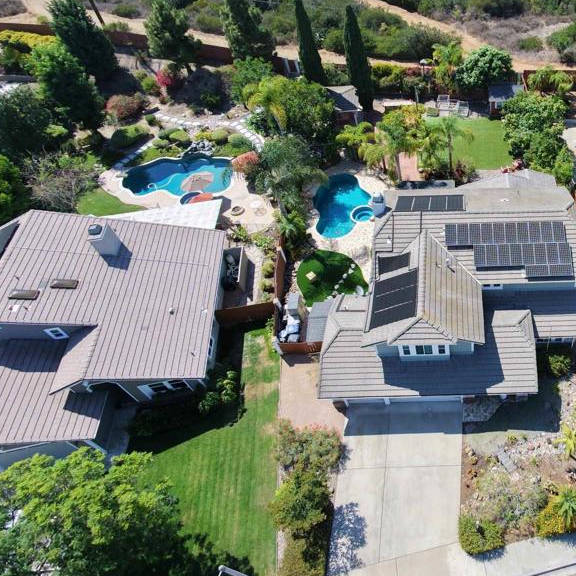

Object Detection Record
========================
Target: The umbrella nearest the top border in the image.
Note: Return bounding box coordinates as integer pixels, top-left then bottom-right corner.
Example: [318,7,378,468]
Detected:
[179,169,220,201]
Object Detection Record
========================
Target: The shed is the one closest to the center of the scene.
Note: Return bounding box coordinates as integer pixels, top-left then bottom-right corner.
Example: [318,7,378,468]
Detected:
[285,291,308,322]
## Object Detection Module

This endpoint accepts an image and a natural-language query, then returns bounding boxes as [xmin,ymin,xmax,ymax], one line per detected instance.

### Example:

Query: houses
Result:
[318,169,576,410]
[0,208,228,469]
